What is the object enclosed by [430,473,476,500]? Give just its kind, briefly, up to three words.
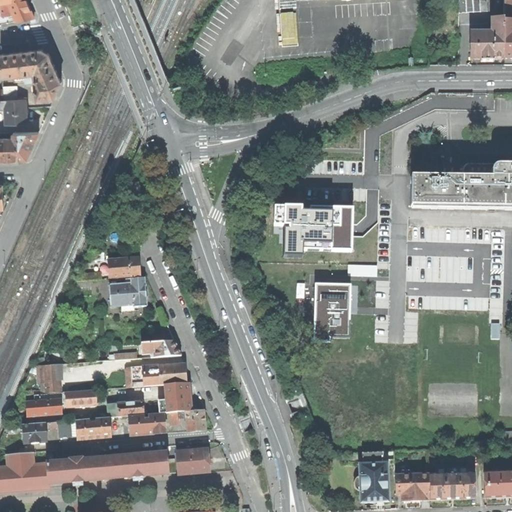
house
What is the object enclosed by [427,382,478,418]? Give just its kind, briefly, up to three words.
sports court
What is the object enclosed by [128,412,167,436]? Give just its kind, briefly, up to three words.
house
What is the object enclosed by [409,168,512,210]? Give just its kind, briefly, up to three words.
building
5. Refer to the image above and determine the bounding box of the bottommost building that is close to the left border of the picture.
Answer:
[0,450,170,494]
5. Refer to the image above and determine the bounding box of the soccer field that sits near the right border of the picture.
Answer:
[418,313,512,440]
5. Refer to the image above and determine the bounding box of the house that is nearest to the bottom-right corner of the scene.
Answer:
[484,470,512,498]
